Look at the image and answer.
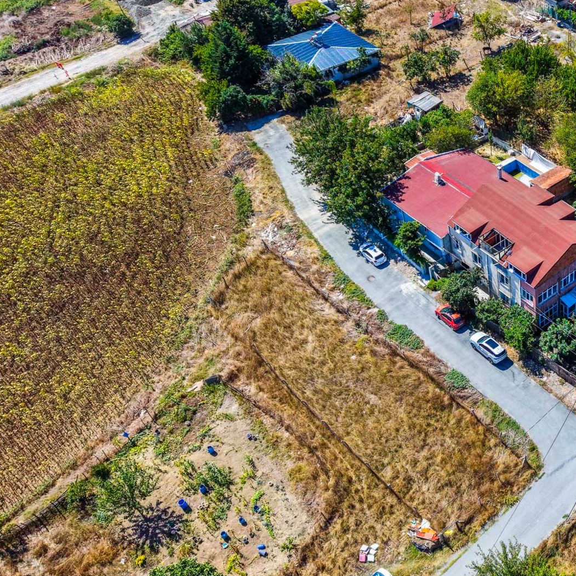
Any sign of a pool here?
Yes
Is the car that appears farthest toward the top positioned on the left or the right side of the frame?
right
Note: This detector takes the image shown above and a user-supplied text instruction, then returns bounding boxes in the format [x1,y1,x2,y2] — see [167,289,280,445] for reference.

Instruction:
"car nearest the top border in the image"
[358,241,392,267]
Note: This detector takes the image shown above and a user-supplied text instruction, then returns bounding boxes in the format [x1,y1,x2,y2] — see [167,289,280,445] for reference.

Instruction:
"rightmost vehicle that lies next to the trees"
[467,329,510,364]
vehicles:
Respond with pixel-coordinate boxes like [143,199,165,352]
[467,329,510,364]
[358,241,392,267]
[370,565,393,576]
[434,303,470,332]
